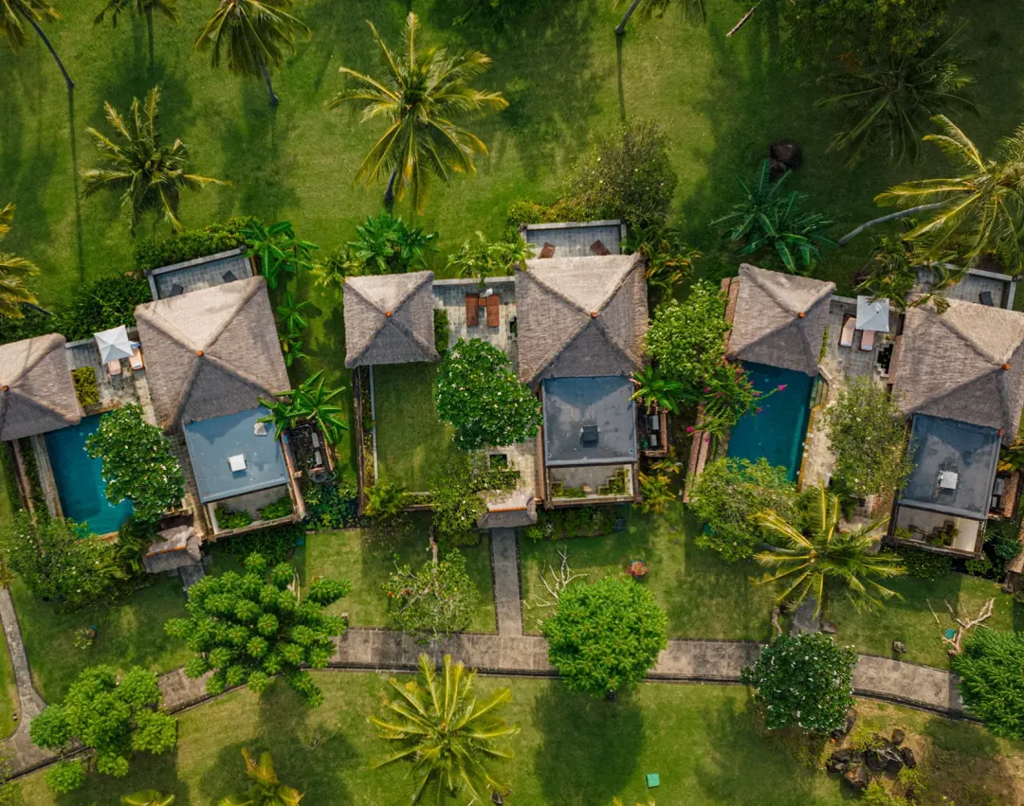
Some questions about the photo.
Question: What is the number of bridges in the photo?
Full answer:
Not a single bridge can be seen.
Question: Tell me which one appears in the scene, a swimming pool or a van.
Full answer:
The image shows a swimming pool.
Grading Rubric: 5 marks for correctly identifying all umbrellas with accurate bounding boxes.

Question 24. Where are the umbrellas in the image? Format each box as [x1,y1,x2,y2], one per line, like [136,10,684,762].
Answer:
[853,295,889,332]
[94,325,134,364]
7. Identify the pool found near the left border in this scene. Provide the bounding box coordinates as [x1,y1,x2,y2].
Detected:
[44,410,130,541]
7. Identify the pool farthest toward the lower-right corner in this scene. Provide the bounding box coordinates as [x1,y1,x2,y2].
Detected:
[719,360,831,491]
